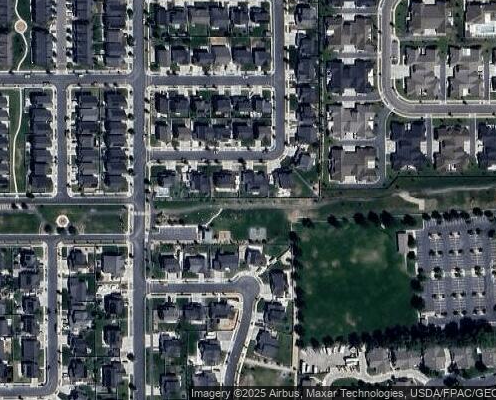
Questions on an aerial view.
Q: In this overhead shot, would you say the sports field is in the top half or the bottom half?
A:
bottom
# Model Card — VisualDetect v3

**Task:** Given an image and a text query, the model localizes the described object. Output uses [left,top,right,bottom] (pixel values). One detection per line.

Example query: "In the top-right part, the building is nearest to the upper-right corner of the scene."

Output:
[467,0,496,22]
